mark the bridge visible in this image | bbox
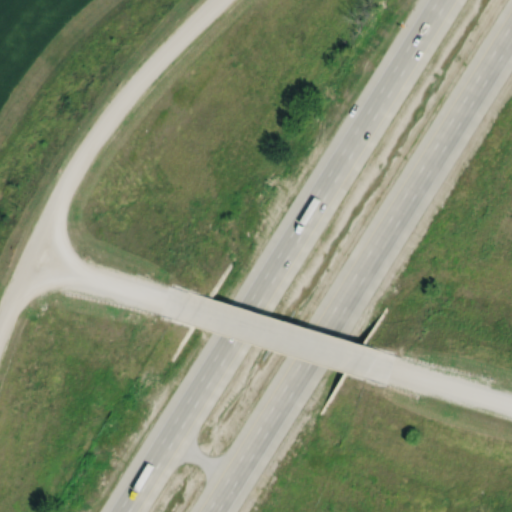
[163,264,398,413]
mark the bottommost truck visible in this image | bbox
[130,464,154,498]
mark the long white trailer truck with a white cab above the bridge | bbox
[296,198,320,233]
